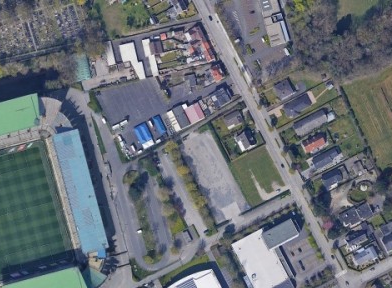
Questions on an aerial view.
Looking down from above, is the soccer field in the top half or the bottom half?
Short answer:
bottom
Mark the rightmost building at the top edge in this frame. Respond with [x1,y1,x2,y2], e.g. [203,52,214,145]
[257,0,290,48]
